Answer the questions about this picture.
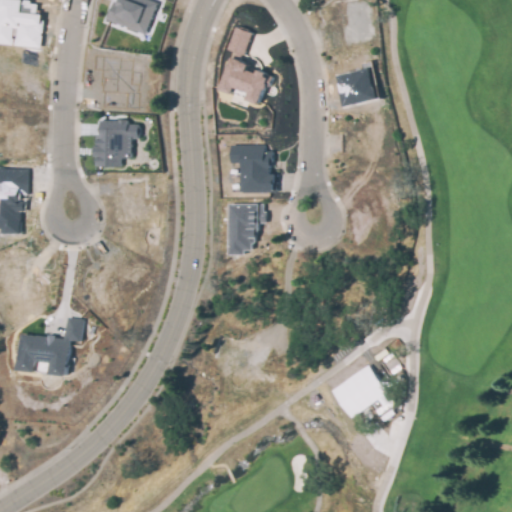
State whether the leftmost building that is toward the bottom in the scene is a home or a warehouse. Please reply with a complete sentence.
It looks like the leftmost building that is toward the bottom is a home.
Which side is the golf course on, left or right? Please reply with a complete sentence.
It is on the right.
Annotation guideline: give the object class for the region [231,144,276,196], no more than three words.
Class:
house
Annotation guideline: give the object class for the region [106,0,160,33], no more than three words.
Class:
house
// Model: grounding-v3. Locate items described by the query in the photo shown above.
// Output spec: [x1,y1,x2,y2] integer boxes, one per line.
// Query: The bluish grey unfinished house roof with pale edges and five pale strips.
[228,204,267,256]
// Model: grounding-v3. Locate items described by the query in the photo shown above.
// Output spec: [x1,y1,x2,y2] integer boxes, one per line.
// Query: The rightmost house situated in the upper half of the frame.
[336,64,384,110]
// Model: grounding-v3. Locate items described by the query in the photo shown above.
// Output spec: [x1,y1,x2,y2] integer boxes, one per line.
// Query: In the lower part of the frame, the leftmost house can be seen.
[15,318,86,375]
